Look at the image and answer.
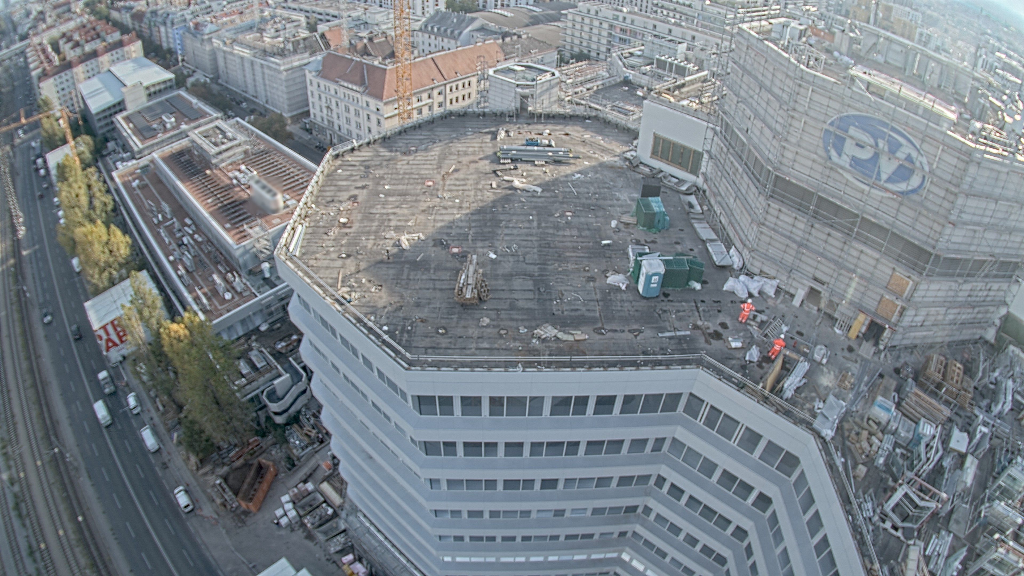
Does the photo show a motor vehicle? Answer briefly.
Yes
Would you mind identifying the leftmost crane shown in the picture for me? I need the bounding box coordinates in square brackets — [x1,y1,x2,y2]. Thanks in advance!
[0,94,91,169]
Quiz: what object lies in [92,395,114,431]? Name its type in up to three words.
vehicle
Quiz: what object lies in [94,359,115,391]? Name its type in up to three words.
vehicle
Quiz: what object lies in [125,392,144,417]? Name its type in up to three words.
car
